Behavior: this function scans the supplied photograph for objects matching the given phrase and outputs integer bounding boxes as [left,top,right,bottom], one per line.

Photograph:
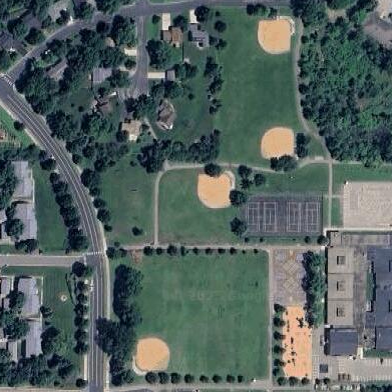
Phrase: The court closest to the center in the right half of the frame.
[242,190,324,237]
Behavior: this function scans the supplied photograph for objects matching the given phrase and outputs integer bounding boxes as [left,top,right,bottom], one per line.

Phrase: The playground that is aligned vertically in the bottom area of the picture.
[283,307,313,377]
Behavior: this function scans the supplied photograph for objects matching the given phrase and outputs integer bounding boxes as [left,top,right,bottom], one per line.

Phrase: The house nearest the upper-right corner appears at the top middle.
[189,25,210,50]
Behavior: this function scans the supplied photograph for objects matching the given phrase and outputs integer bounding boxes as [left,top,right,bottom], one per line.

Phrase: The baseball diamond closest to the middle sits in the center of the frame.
[197,171,235,208]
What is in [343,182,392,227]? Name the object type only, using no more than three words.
sports court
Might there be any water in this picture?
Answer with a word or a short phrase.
No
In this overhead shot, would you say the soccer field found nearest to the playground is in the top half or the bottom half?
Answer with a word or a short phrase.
bottom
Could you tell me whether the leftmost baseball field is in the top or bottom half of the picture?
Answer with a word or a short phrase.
bottom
